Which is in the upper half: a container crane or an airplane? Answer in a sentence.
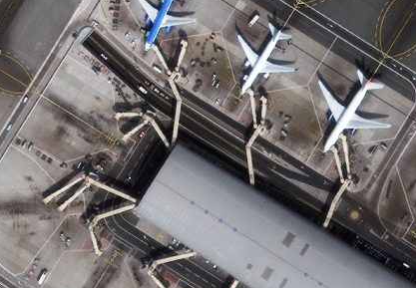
Looking in the upper half, you will find an airplane.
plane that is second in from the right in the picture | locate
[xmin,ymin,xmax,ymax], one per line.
[237,24,299,95]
